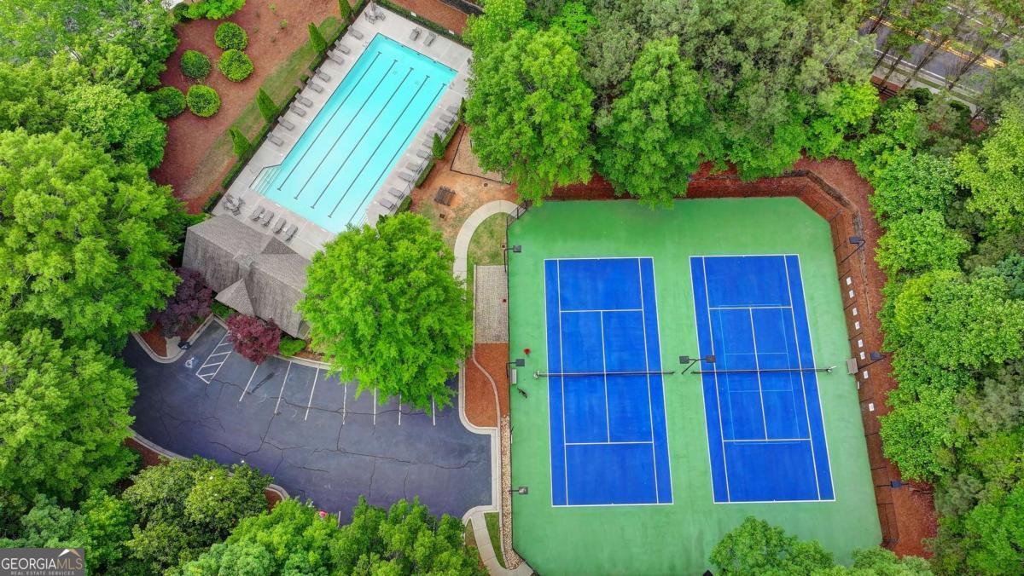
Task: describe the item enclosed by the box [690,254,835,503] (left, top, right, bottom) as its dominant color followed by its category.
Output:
blue tennis court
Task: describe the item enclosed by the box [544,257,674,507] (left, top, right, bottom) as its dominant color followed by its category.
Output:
blue tennis court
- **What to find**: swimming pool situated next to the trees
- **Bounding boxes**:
[244,29,462,249]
